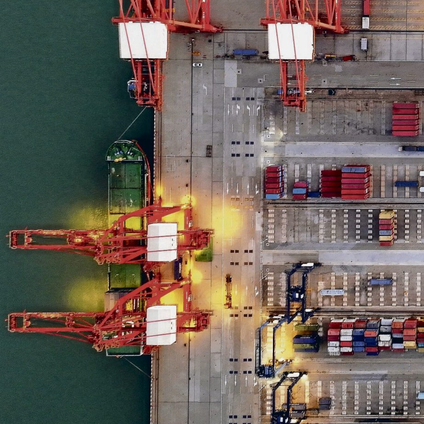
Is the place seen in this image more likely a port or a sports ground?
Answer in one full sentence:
This looks like a port.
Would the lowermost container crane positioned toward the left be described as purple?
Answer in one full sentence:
No, the lowermost container crane positioned toward the left is actually red.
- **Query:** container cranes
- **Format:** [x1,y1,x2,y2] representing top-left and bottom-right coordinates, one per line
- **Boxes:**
[254,312,294,376]
[3,272,215,352]
[284,259,322,321]
[119,0,222,110]
[4,197,216,265]
[268,0,350,111]
[269,368,308,424]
